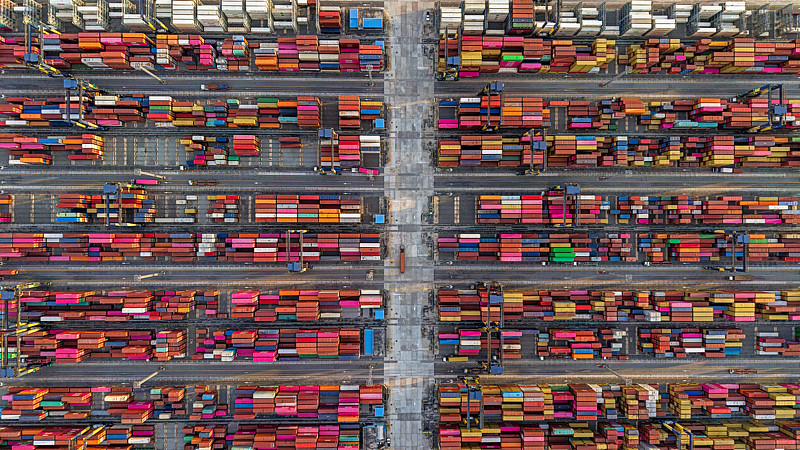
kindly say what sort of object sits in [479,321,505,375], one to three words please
container crane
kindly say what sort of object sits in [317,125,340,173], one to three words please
container crane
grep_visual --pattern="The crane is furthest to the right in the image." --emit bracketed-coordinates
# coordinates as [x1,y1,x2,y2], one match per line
[741,84,784,134]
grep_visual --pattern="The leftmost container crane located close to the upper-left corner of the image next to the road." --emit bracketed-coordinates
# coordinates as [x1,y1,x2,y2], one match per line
[23,20,66,76]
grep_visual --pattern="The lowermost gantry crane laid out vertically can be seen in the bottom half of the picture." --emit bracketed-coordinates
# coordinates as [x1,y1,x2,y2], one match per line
[459,375,484,429]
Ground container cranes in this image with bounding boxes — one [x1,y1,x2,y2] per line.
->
[1,324,46,376]
[138,0,173,34]
[550,184,580,227]
[2,281,47,330]
[438,24,462,79]
[103,182,141,227]
[287,227,311,271]
[459,375,484,429]
[479,321,505,375]
[479,280,504,328]
[659,414,695,450]
[23,20,66,76]
[519,127,548,174]
[532,0,562,39]
[741,84,784,134]
[478,82,504,133]
[63,79,104,130]
[317,125,340,173]
[708,227,749,270]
